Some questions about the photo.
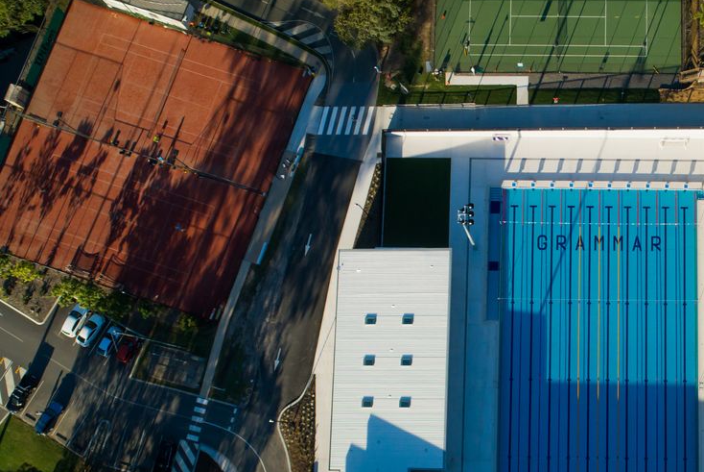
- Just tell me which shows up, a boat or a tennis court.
tennis court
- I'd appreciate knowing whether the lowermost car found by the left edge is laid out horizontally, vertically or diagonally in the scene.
diagonally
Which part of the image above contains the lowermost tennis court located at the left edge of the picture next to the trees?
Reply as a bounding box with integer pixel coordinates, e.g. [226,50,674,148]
[0,114,262,317]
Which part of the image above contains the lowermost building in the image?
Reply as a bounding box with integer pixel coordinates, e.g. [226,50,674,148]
[330,248,452,472]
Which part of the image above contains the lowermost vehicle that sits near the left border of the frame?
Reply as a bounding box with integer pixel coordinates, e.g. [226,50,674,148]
[29,394,65,436]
